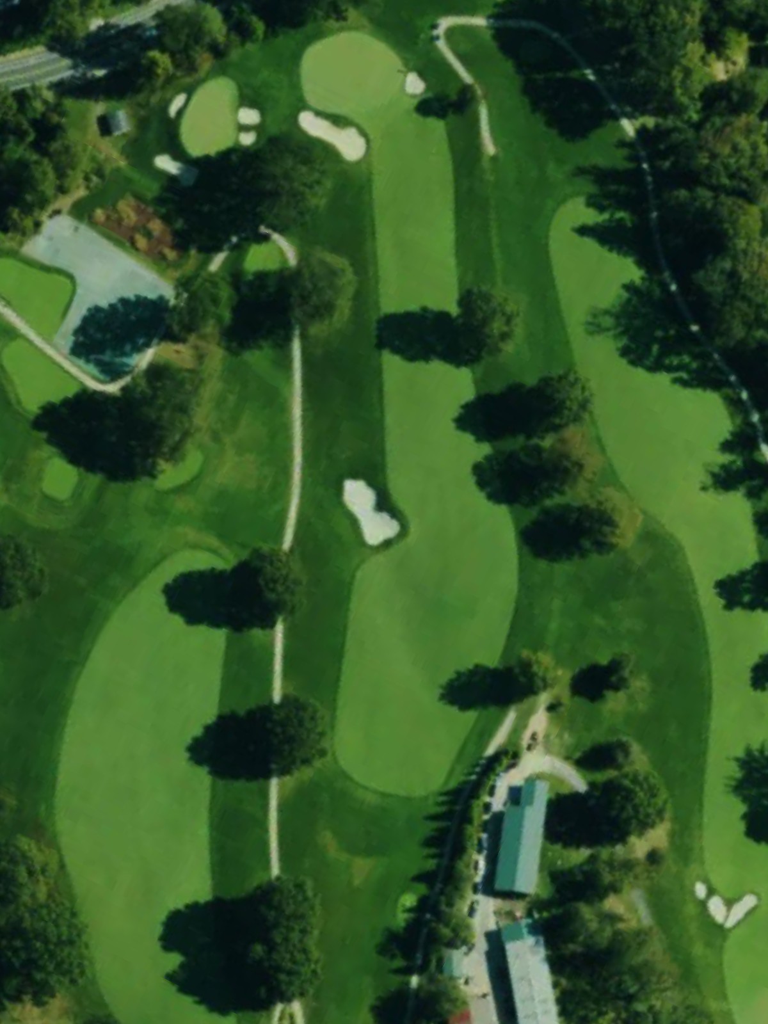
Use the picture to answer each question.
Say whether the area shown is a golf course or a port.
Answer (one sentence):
What you see here is a golf course.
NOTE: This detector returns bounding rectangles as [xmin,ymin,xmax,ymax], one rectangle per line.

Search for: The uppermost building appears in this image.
[107,109,128,135]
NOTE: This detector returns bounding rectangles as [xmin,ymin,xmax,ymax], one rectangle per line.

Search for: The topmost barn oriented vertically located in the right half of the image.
[494,779,549,895]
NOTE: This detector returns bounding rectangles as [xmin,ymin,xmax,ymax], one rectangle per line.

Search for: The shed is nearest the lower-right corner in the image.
[504,920,558,1024]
